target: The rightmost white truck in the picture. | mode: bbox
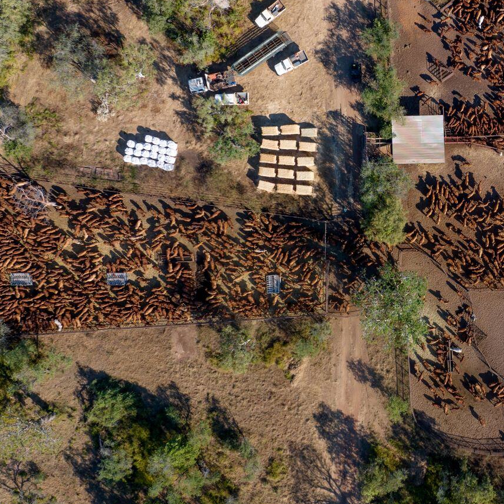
[275,50,310,75]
